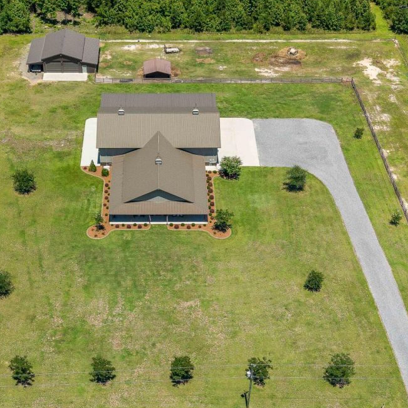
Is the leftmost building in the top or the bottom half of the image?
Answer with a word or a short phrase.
top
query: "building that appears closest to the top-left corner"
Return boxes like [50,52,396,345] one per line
[27,28,100,73]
